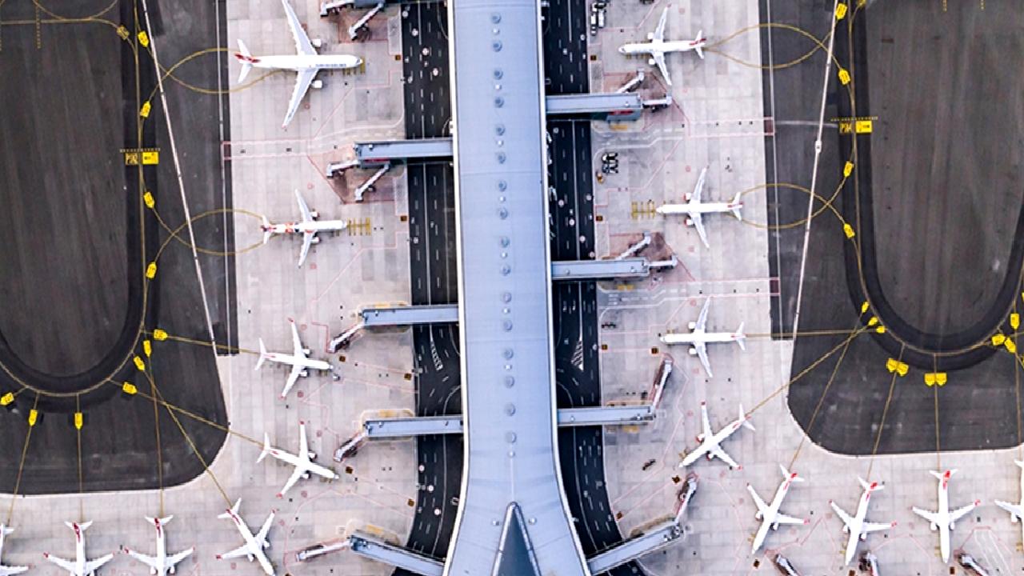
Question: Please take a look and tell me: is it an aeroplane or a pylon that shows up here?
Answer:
aeroplane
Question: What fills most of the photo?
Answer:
paved ground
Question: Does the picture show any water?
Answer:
No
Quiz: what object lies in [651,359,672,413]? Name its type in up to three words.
jet bridge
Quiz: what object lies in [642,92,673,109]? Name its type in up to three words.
jet bridge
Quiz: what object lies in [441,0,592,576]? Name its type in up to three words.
building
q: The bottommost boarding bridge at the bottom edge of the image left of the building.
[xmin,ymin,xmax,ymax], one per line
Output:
[295,538,351,562]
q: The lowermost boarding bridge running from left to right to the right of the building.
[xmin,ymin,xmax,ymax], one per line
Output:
[648,253,678,268]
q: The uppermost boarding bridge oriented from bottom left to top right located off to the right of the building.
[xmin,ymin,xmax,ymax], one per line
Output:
[615,67,646,93]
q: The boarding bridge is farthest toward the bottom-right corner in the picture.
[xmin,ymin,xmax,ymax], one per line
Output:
[957,551,984,576]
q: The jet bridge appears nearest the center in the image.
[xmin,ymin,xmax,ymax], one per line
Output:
[613,230,651,259]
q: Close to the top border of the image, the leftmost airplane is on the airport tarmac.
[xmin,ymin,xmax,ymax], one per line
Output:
[234,0,363,129]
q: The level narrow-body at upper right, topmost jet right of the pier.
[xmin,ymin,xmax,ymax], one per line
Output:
[619,4,708,86]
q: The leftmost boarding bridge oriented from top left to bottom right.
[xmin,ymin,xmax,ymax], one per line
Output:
[773,552,798,576]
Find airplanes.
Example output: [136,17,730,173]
[260,187,346,267]
[43,520,113,576]
[0,527,32,576]
[747,465,812,554]
[660,296,749,379]
[256,320,333,399]
[234,0,363,129]
[831,475,898,565]
[912,470,979,563]
[259,423,339,494]
[619,4,708,86]
[656,164,746,248]
[213,498,275,575]
[680,405,758,466]
[123,516,194,576]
